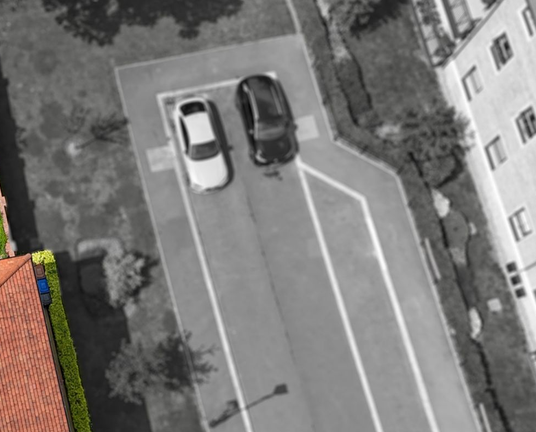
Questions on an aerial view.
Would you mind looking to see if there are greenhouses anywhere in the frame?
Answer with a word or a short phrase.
No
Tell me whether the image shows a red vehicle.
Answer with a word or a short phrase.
No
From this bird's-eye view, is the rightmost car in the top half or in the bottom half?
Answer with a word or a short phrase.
top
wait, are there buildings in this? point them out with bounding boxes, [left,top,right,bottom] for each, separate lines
[416,0,536,322]
[0,253,70,432]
